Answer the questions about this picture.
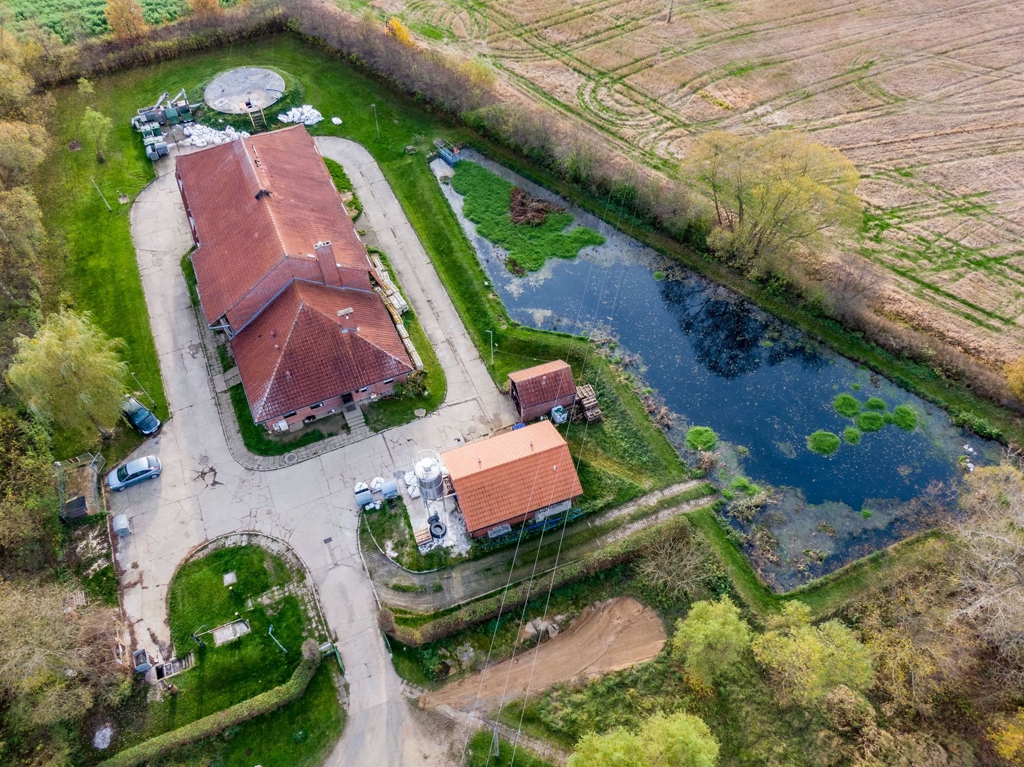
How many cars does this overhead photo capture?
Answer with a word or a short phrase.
2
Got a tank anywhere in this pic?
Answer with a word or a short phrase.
Yes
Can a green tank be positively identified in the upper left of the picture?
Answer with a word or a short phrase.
No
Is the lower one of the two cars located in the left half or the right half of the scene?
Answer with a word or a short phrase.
left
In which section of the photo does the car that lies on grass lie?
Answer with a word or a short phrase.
left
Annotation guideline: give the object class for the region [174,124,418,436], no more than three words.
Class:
building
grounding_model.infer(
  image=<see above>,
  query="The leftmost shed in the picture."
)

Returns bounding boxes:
[56,484,87,515]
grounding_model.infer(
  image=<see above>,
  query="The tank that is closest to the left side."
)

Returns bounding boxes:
[201,68,287,130]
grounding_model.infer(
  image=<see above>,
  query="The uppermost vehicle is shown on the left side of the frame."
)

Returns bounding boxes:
[118,393,158,433]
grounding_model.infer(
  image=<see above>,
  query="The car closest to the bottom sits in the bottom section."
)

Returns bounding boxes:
[107,456,164,493]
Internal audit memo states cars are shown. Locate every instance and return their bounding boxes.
[118,393,158,433]
[107,456,164,493]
